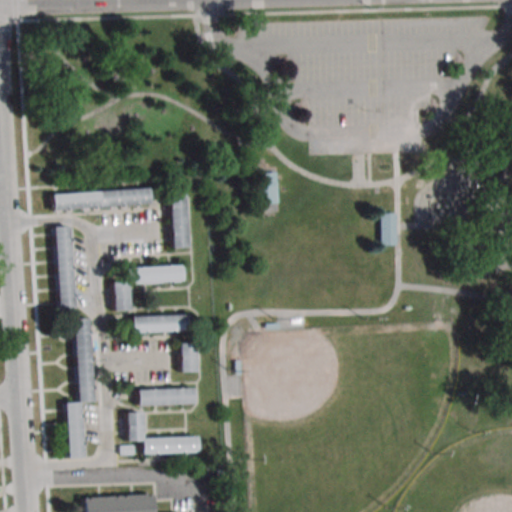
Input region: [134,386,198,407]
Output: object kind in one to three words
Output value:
house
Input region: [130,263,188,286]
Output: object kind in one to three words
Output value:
house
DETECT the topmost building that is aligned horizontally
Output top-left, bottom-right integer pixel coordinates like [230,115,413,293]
[50,186,154,212]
